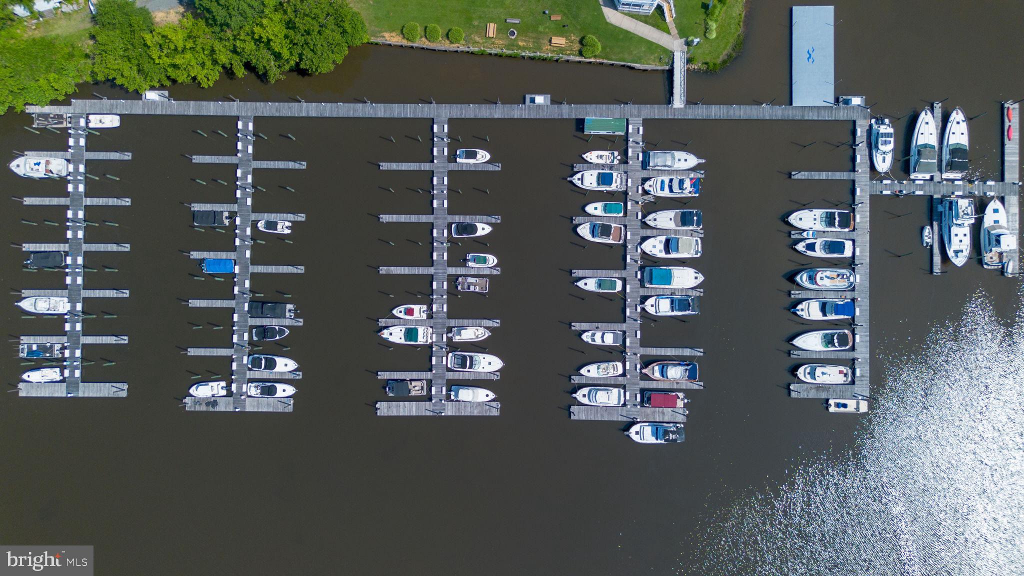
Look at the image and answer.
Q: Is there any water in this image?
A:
Yes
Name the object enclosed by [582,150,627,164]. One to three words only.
boat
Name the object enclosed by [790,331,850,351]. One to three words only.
boat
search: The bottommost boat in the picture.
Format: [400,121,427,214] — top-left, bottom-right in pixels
[624,422,685,443]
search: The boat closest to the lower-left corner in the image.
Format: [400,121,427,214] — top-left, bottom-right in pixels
[19,368,64,383]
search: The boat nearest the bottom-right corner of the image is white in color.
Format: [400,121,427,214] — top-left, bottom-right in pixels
[818,399,868,412]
